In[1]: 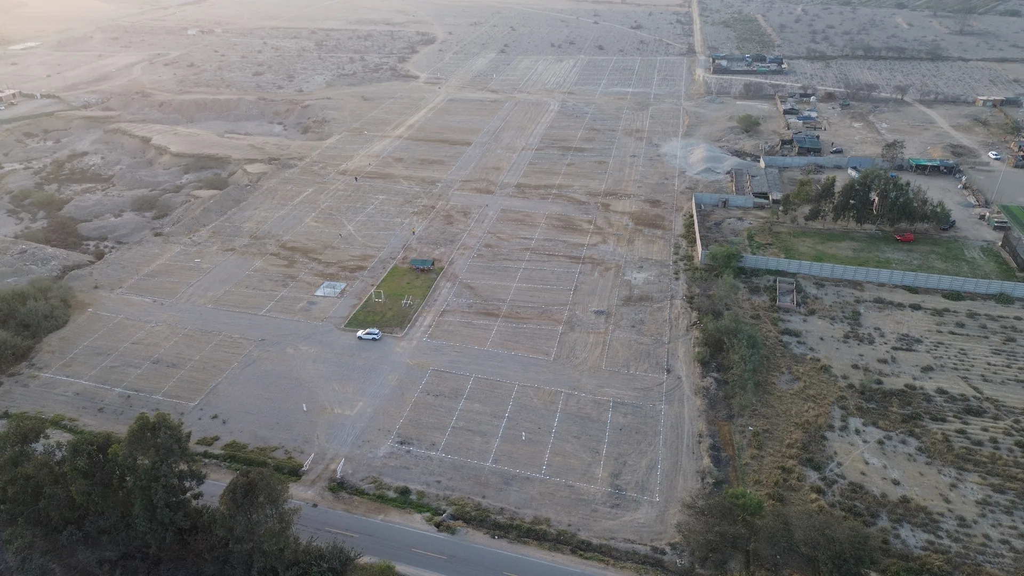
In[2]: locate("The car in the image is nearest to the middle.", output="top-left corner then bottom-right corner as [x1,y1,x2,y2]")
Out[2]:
[355,327,383,342]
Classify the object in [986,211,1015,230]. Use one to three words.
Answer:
shed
